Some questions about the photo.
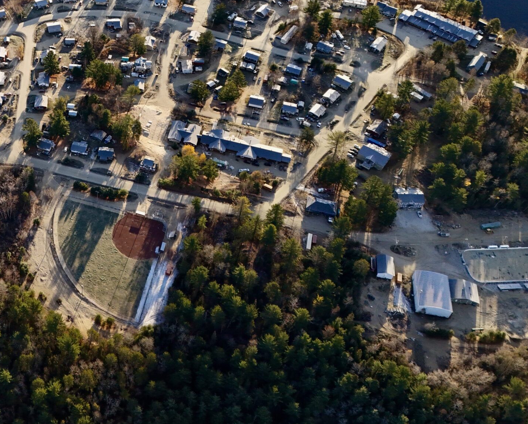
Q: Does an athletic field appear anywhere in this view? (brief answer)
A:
Yes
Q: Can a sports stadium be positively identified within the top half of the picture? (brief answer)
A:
No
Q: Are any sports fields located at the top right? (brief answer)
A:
No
